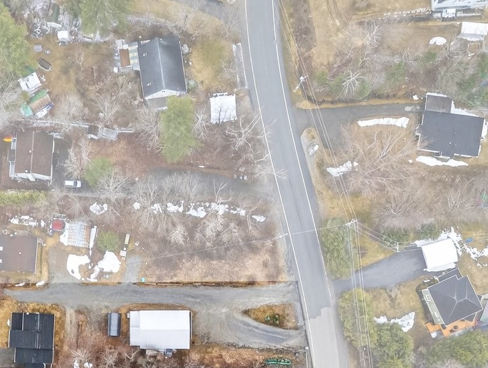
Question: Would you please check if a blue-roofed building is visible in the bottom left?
No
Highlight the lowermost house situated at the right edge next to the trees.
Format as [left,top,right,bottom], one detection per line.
[421,268,482,327]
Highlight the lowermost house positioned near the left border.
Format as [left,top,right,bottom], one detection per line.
[8,312,54,368]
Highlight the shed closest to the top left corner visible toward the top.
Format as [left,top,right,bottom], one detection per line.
[18,72,41,95]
